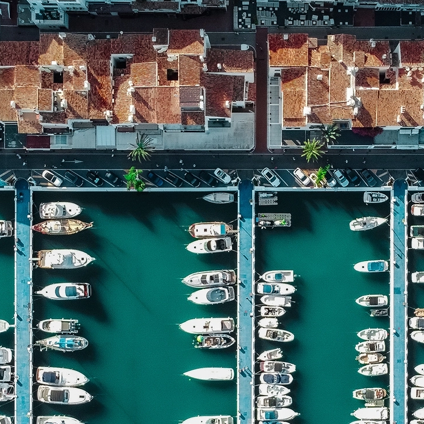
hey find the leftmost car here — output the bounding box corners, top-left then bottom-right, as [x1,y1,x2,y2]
[40,168,64,189]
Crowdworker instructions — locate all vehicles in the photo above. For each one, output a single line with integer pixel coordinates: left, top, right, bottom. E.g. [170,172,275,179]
[258,165,282,189]
[102,168,126,189]
[181,169,204,190]
[211,165,232,187]
[60,168,83,189]
[359,167,380,189]
[343,165,364,189]
[331,167,351,190]
[291,165,312,188]
[196,167,220,189]
[83,168,106,189]
[40,168,64,189]
[323,169,341,190]
[162,169,184,190]
[143,168,166,190]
